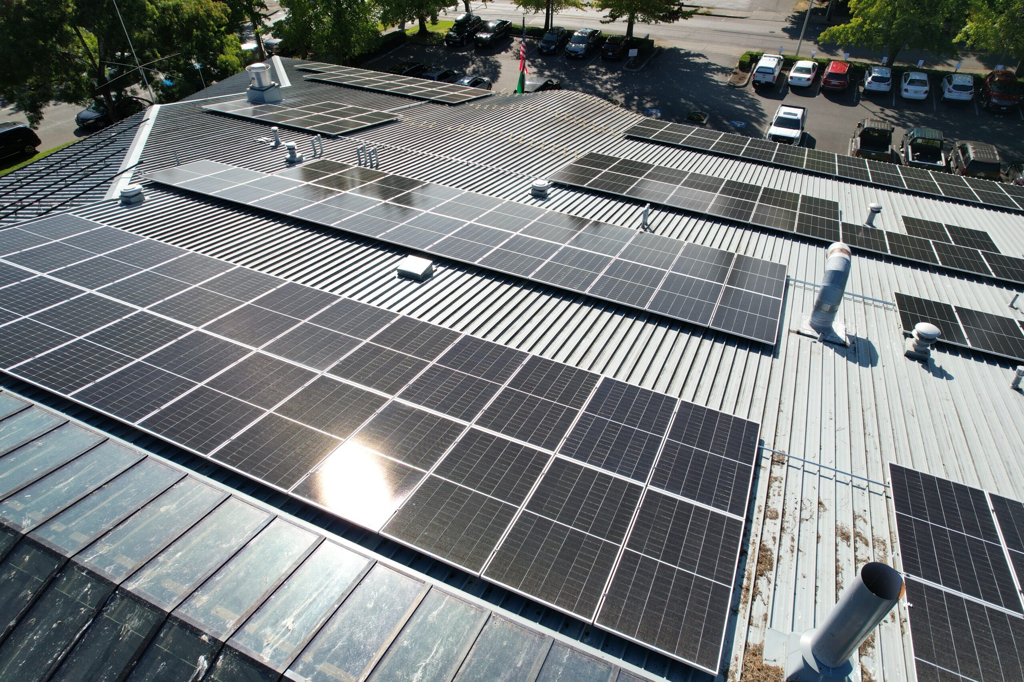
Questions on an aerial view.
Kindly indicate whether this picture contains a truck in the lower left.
No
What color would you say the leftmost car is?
black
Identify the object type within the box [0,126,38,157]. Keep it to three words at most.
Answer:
car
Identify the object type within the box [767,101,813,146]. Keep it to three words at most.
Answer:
truck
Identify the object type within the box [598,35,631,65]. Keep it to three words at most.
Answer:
car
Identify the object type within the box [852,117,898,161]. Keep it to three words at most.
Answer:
truck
